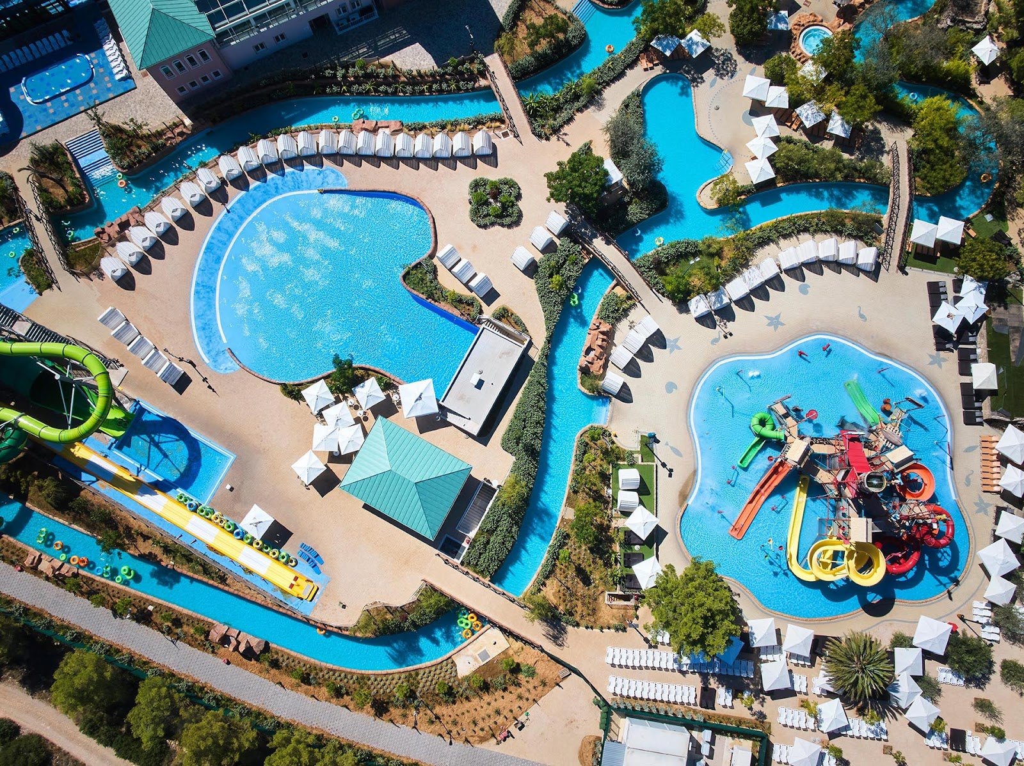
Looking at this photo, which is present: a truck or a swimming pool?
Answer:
swimming pool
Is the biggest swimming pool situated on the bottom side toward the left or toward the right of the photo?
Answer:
right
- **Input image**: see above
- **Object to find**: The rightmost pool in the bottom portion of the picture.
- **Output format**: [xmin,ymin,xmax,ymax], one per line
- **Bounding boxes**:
[679,337,971,619]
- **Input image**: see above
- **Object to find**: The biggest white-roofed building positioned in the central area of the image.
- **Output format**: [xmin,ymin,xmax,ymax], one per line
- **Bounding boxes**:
[438,326,525,436]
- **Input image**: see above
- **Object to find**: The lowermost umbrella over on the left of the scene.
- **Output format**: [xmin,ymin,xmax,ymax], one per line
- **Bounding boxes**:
[234,505,274,545]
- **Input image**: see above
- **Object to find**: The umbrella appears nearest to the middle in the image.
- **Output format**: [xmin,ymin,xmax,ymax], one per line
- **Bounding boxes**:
[398,377,441,420]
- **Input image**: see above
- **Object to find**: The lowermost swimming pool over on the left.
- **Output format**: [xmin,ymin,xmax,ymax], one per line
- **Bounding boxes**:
[117,404,231,498]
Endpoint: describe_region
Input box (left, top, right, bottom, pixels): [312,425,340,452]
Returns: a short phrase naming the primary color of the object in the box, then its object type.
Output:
white umbrella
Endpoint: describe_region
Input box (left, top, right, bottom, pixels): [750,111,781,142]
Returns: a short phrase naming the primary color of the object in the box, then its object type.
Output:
white umbrella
